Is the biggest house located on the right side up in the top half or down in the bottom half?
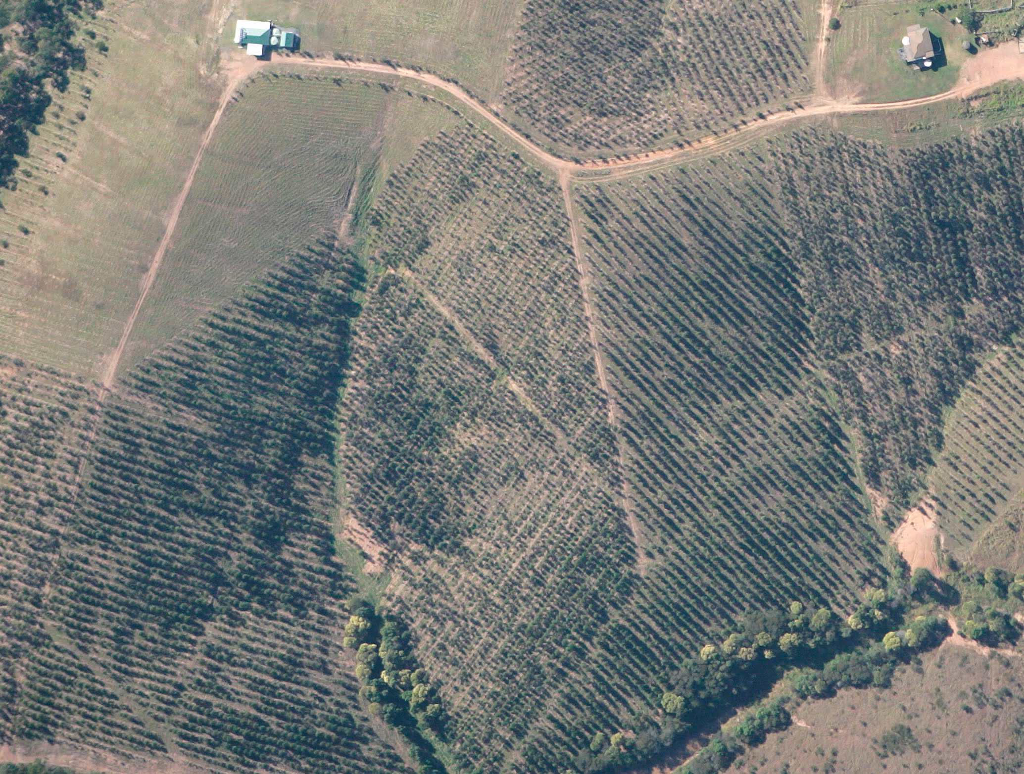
top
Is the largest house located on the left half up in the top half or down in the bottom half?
top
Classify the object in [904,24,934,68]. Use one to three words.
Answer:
house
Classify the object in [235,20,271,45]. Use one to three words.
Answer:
house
